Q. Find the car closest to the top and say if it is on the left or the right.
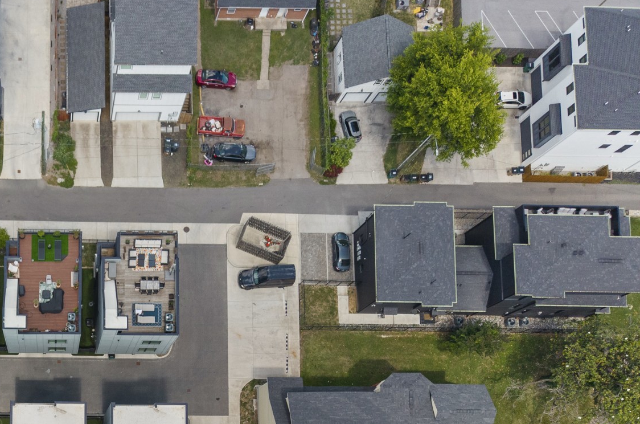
left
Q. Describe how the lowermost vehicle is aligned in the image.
from side to side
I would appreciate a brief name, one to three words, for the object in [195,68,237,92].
car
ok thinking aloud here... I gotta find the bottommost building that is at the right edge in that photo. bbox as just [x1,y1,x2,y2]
[461,204,640,318]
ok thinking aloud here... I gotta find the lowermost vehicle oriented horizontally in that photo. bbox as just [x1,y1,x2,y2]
[238,263,297,290]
